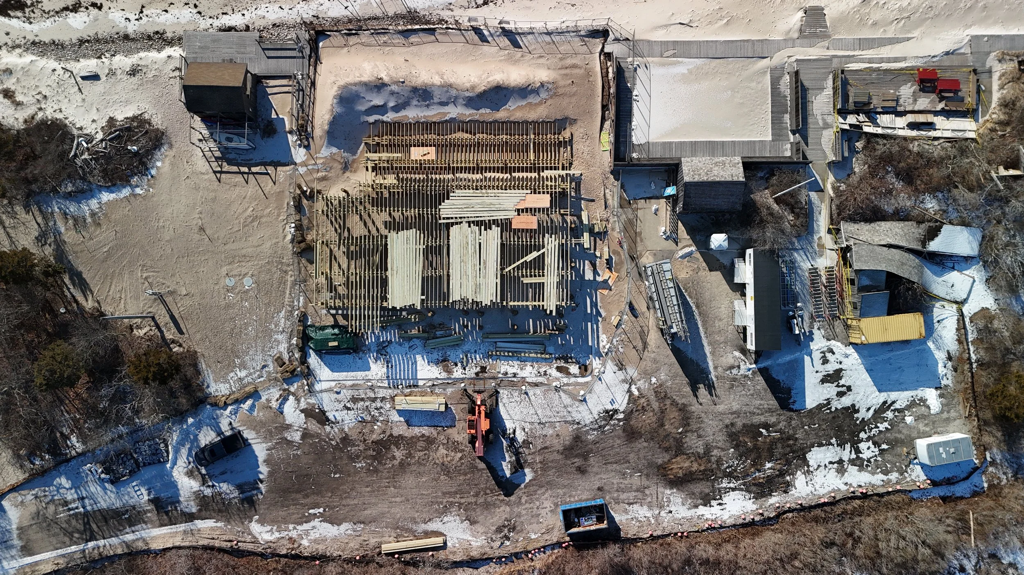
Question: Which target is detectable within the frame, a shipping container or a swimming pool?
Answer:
shipping container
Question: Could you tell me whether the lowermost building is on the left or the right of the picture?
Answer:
right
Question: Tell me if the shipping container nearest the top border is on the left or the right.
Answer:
right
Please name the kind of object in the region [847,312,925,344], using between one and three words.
shipping container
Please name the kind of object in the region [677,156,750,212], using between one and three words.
shed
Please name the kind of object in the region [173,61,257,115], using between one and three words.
shed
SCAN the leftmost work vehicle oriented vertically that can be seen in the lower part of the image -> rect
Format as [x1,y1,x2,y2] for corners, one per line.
[462,377,500,457]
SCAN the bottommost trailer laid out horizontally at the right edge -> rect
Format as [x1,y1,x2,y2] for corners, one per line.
[900,433,974,466]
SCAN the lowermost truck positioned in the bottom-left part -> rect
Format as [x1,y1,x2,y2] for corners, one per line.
[191,428,253,470]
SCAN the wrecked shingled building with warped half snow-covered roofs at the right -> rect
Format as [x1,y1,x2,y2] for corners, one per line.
[836,221,982,319]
